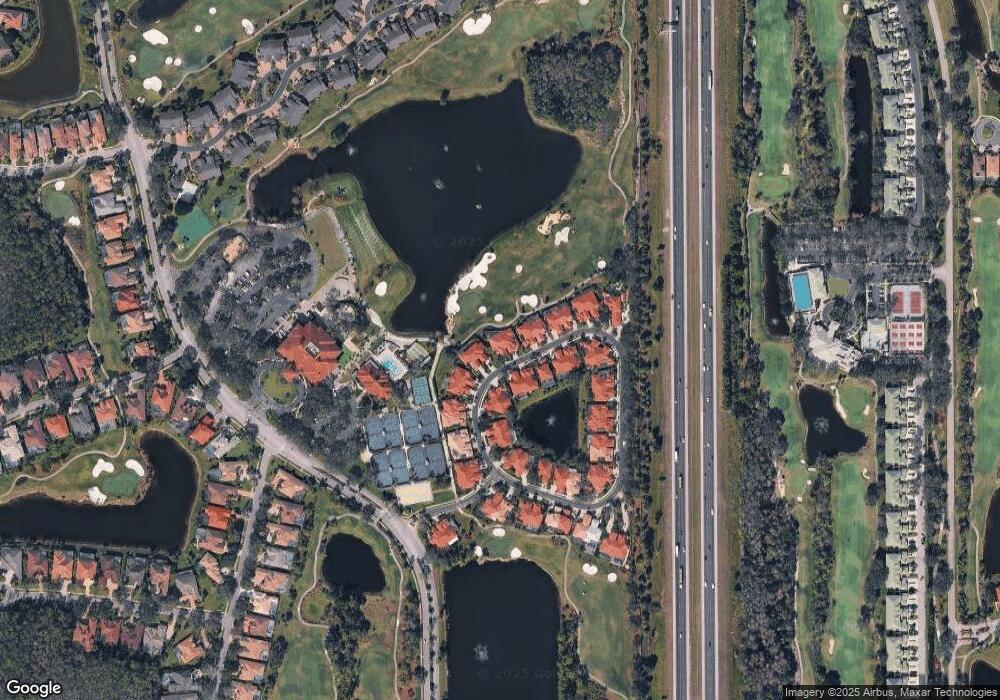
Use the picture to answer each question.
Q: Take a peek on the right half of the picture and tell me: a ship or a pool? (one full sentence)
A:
You can see a pool on the right half of the picture.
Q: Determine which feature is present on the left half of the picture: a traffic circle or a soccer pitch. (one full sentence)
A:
Looking on the left half of the picture, you will find a traffic circle.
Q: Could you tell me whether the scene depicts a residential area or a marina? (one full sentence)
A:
The picture captures a residential area.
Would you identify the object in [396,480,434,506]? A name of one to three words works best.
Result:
sports court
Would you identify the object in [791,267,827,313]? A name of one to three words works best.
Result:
swimming pool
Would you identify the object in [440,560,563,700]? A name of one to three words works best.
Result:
pond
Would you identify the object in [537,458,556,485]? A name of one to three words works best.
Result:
house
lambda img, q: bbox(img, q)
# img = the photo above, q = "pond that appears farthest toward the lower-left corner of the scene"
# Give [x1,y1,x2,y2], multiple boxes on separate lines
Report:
[322,533,384,592]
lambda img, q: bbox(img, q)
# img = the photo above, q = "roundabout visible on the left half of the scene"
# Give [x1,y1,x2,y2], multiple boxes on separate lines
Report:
[255,361,309,411]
